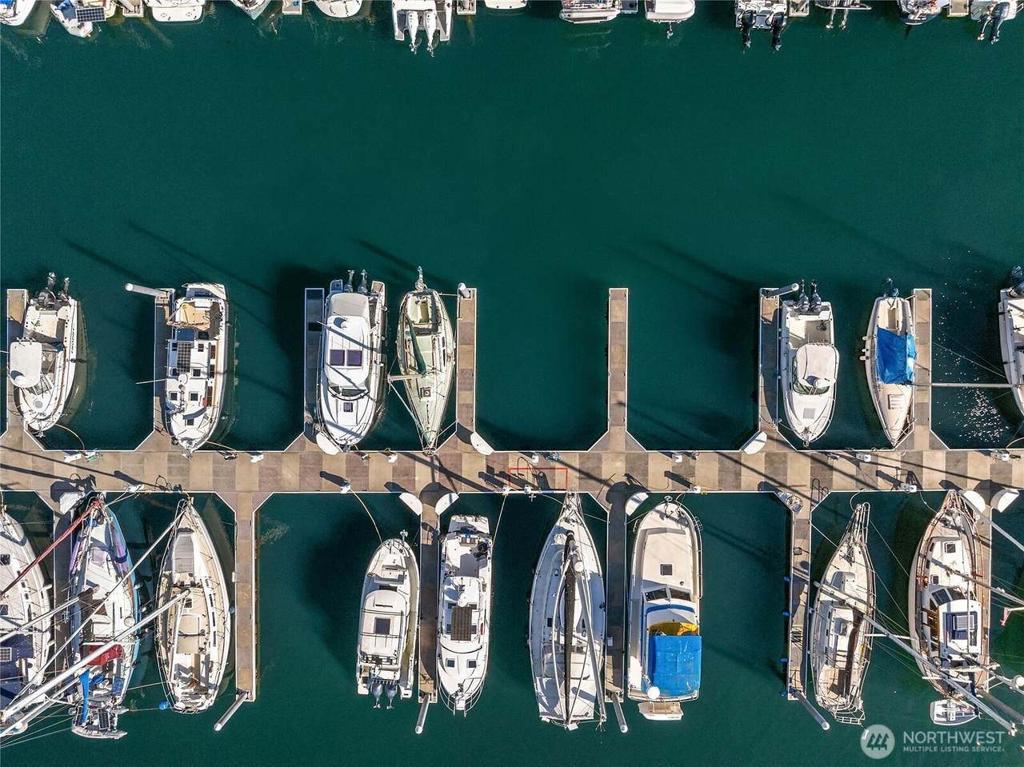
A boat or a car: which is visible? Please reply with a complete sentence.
There is a boat in the scene.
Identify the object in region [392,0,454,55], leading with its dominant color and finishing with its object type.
white boat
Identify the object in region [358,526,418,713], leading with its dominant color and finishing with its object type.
white boat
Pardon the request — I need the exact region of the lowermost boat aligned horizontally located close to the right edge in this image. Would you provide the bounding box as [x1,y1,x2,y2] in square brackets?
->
[926,699,984,725]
